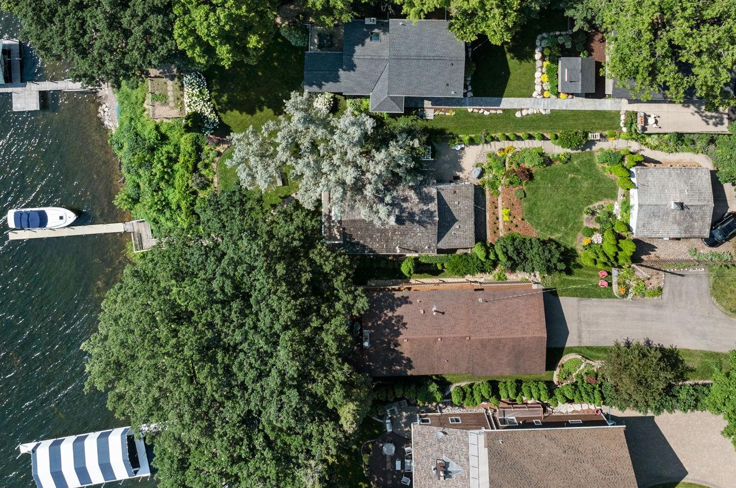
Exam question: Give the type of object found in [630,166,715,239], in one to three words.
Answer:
building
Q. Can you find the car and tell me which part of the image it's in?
right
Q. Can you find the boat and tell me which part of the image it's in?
left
